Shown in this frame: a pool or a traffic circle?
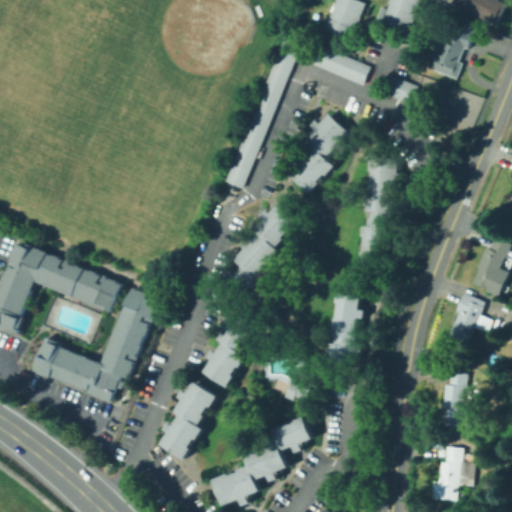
pool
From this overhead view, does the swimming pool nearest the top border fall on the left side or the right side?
left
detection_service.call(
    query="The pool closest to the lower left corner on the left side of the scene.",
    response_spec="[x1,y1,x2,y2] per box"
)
[46,298,102,343]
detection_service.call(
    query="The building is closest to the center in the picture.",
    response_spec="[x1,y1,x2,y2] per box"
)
[235,206,281,274]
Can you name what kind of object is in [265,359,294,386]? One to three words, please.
swimming pool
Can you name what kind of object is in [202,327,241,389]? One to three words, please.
building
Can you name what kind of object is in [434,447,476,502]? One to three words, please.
house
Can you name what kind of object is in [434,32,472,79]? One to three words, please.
house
